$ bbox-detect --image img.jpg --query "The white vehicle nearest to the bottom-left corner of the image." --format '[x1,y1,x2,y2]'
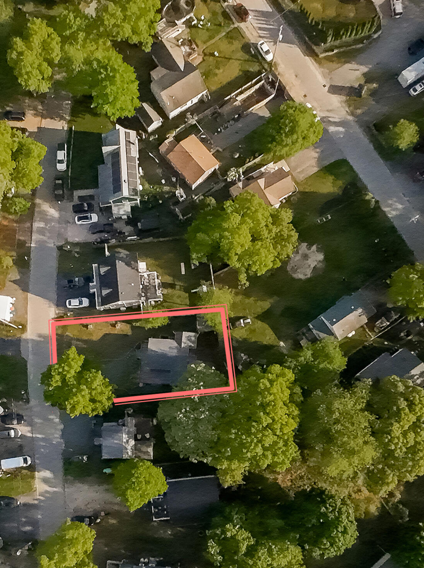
[0,456,32,469]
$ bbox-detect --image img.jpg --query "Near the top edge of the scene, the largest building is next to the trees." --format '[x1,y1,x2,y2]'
[146,14,208,119]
